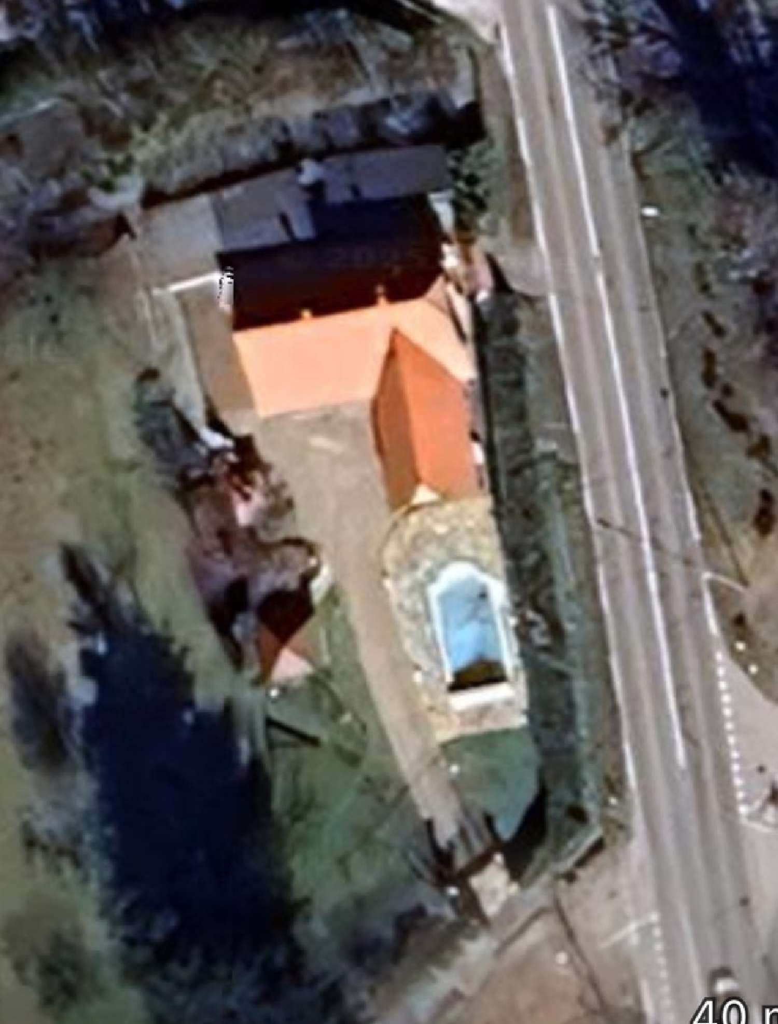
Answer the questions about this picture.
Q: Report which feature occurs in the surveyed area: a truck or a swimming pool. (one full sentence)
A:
There is a swimming pool in the scene.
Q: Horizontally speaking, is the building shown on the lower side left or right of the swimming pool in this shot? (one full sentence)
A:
It is on the left side of the swimming pool that the building shown on the lower side is positioned.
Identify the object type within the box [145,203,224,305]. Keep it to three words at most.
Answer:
shed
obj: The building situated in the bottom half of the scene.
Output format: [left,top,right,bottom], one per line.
[256,606,325,687]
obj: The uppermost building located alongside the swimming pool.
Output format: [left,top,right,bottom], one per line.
[235,242,488,517]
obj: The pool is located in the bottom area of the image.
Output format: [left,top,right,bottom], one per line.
[428,564,514,698]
